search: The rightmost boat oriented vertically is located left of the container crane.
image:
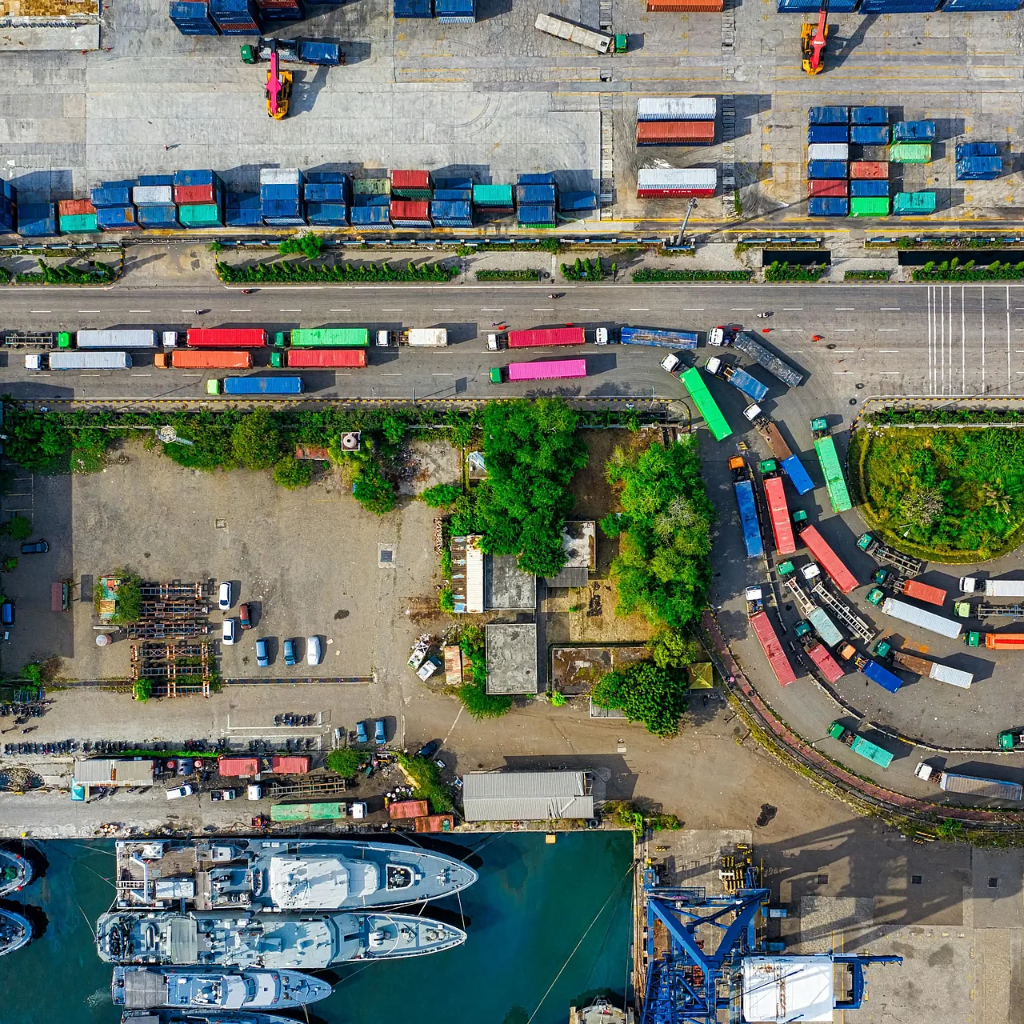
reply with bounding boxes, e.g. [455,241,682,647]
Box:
[250,866,264,897]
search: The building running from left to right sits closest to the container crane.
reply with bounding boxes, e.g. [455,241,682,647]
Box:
[463,769,594,822]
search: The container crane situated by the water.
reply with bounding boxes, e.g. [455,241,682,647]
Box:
[640,859,904,1024]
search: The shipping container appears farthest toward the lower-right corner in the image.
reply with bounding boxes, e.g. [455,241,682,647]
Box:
[938,771,1022,801]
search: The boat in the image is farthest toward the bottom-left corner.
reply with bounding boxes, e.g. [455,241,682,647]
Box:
[0,903,38,956]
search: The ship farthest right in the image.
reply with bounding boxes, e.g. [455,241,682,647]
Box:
[569,997,634,1024]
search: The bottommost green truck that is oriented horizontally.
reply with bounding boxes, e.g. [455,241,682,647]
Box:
[271,800,368,822]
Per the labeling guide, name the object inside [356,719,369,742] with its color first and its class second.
blue vehicle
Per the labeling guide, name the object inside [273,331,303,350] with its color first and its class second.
green vehicle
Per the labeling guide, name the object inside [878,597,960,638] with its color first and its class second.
white shipping container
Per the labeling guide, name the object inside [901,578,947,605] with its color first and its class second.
red shipping container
